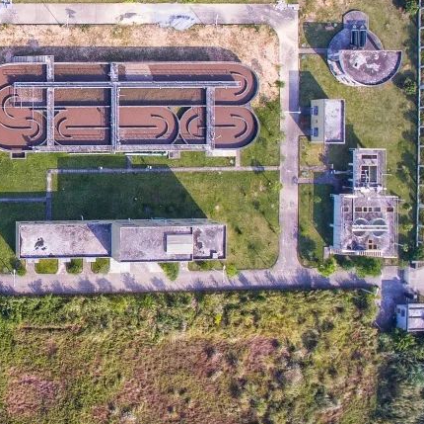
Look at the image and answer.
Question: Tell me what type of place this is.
industrial area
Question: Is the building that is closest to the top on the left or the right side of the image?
right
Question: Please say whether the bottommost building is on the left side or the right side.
right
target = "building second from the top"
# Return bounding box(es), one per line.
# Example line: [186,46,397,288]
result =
[310,100,345,144]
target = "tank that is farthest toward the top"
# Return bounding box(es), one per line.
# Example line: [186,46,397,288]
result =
[0,55,259,158]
